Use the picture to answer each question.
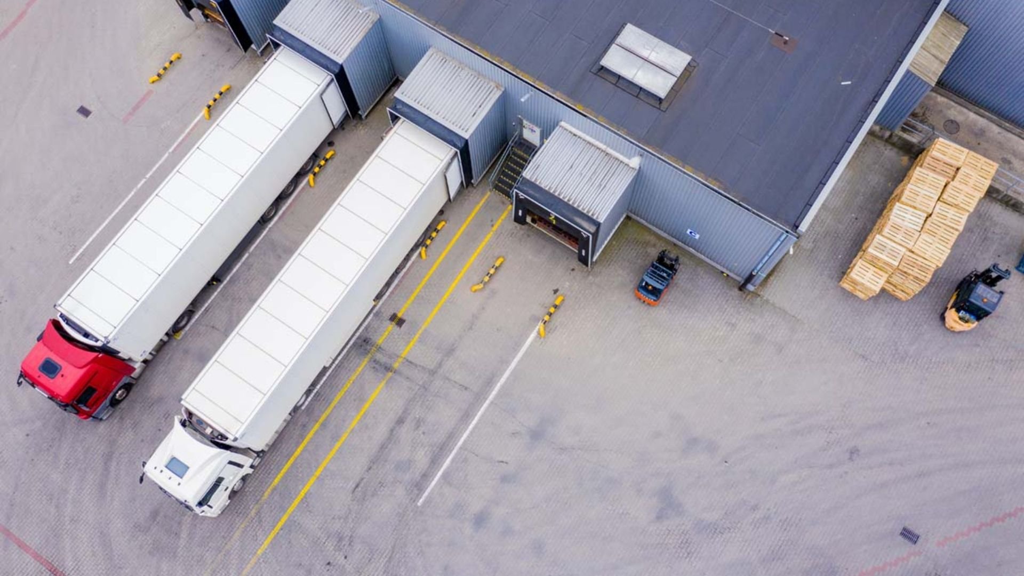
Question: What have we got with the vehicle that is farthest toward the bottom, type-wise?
truck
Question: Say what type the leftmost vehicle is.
truck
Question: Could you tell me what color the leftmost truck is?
red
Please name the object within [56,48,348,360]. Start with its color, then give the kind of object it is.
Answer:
white trailer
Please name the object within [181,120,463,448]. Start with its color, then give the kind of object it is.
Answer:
white trailer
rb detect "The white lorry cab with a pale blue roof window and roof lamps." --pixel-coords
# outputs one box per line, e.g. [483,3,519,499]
[142,393,306,520]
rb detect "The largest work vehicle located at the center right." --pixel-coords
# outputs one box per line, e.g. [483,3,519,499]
[937,263,1012,336]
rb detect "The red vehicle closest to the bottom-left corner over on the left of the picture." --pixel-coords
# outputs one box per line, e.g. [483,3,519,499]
[22,319,157,425]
